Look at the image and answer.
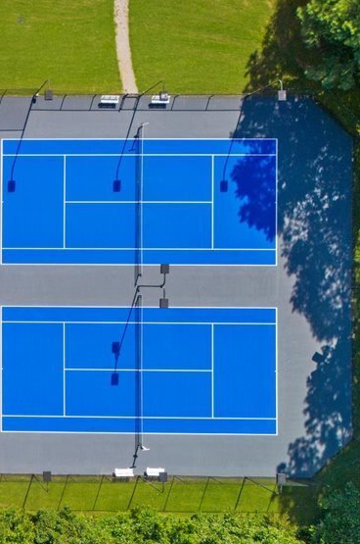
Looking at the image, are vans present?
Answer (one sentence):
No, the frame has no van in it.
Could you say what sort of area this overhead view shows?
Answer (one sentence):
The picture captures a sports ground.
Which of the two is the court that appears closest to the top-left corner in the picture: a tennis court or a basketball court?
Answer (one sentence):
Specifically, the court that appears closest to the top-left corner is a tennis court.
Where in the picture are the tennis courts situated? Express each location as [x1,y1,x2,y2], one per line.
[1,306,279,436]
[2,139,279,266]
